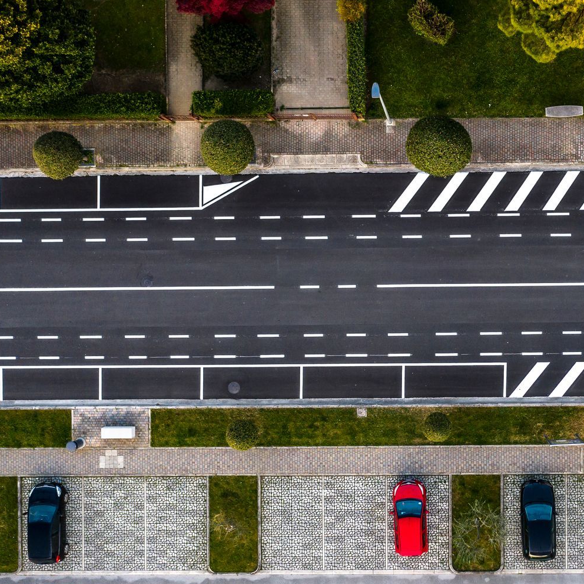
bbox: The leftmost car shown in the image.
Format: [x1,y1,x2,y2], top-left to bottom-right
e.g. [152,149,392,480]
[21,480,70,565]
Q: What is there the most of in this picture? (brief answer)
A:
paved ground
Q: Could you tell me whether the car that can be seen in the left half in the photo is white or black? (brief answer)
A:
black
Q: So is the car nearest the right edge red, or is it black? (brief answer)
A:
black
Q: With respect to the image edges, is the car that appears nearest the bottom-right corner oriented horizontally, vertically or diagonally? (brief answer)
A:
vertically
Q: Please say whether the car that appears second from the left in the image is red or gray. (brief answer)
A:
red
